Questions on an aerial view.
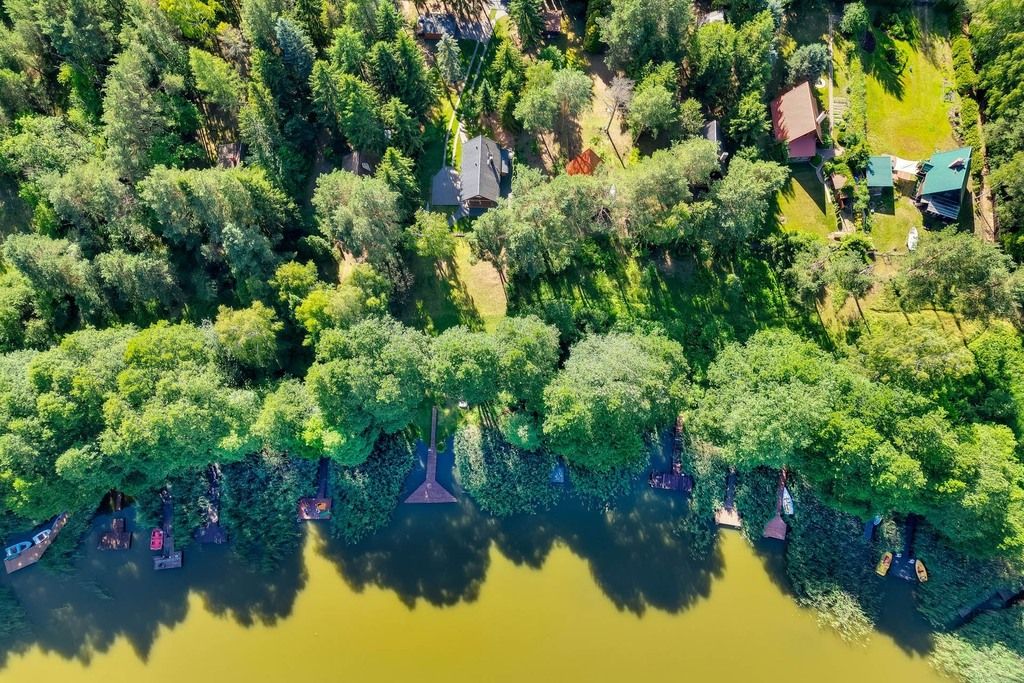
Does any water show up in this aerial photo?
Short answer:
Yes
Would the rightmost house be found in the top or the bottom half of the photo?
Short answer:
top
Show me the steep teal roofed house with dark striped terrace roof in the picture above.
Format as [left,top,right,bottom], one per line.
[913,147,972,219]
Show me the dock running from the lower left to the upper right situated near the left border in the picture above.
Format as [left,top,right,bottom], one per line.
[4,513,69,573]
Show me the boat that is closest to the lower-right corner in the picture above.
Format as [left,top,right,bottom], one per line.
[916,559,928,583]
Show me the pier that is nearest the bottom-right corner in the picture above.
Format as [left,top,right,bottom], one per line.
[888,515,916,582]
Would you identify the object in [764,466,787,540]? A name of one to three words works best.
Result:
pier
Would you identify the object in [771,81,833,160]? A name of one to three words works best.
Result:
house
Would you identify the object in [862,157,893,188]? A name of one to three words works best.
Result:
shed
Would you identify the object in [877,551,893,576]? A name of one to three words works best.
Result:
boat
